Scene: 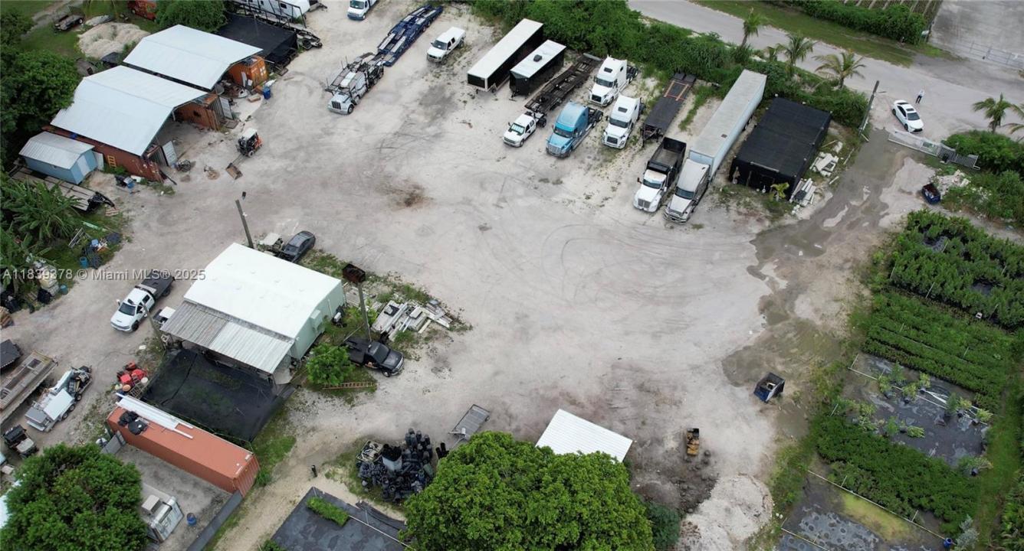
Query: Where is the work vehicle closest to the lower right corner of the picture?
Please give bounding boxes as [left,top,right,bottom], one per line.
[685,427,701,454]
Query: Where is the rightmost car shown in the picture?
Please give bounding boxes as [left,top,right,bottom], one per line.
[891,99,924,130]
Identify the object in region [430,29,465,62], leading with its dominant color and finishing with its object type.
white truck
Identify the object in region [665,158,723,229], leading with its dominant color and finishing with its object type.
gray truck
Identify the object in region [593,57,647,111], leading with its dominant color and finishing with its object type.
white truck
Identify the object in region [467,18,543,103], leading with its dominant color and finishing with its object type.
white trailer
